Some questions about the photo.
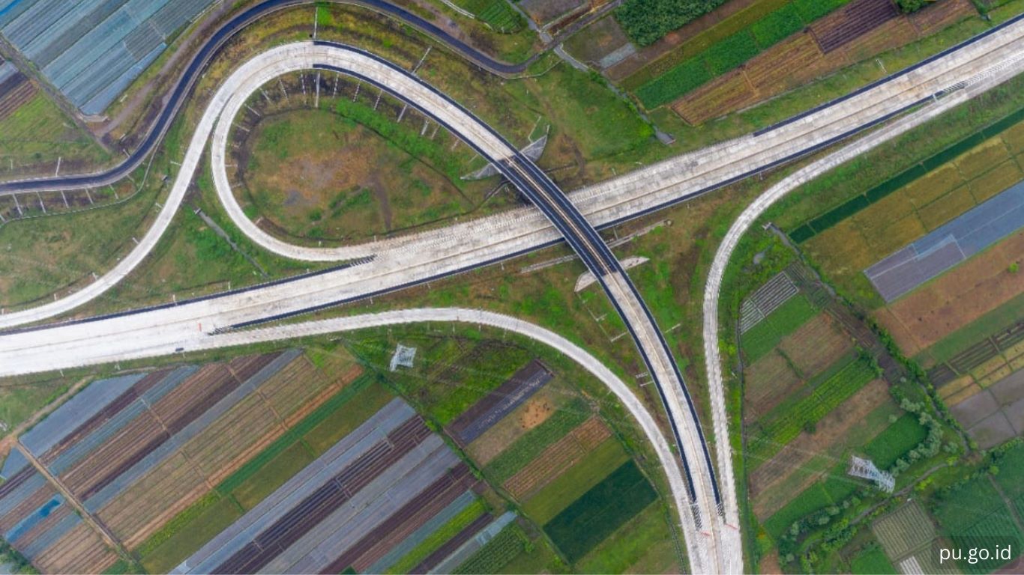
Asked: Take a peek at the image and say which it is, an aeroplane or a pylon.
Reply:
pylon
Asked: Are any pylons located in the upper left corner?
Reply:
No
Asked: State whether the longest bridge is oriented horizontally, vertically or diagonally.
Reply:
diagonally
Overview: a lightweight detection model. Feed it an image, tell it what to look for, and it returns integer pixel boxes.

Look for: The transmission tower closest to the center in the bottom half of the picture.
[392,343,418,371]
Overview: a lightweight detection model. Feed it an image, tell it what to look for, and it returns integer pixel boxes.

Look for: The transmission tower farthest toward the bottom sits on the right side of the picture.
[847,454,898,493]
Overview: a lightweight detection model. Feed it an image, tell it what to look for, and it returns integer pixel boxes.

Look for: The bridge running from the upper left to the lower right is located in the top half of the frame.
[460,135,649,293]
